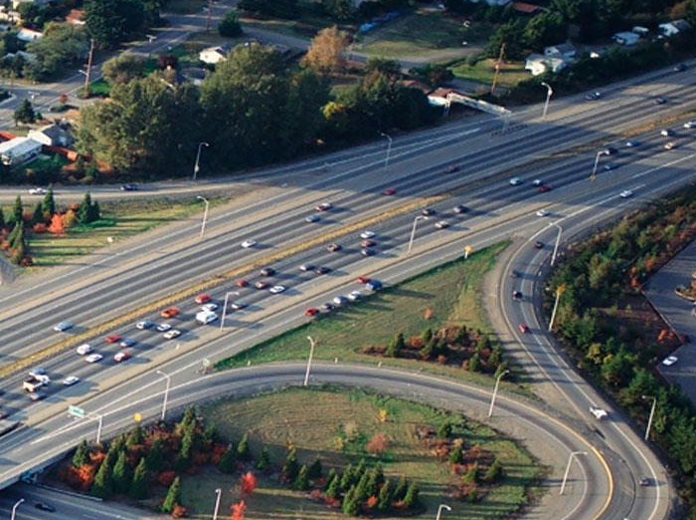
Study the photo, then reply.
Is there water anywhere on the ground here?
No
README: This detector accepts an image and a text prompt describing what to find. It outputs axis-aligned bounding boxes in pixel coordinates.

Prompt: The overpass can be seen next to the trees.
[0,419,135,493]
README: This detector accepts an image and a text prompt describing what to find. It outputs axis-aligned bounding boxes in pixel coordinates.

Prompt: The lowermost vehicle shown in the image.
[33,501,56,513]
